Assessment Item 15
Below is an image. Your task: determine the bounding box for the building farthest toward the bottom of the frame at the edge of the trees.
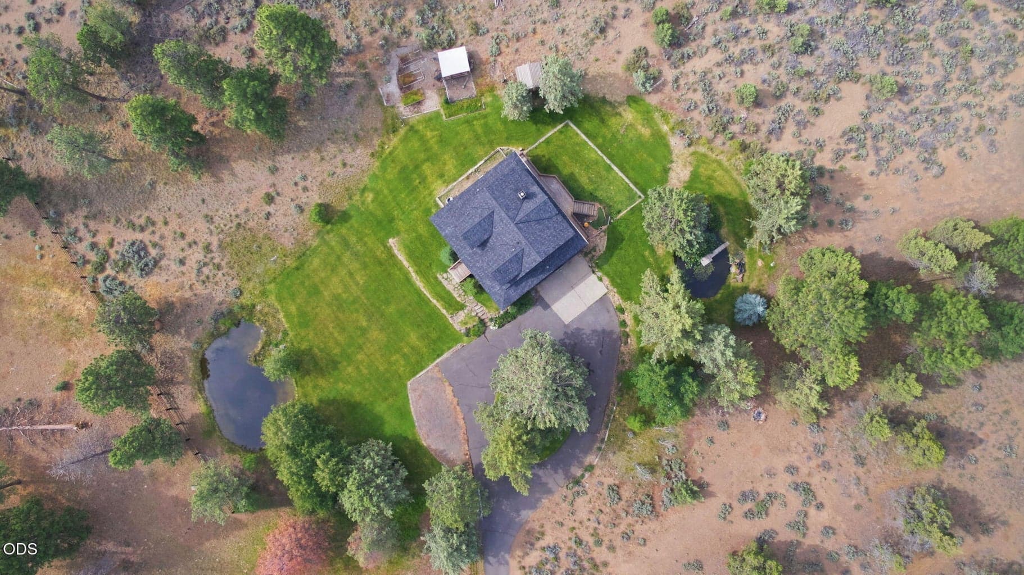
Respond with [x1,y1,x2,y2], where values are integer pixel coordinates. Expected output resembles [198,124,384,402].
[429,151,595,312]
